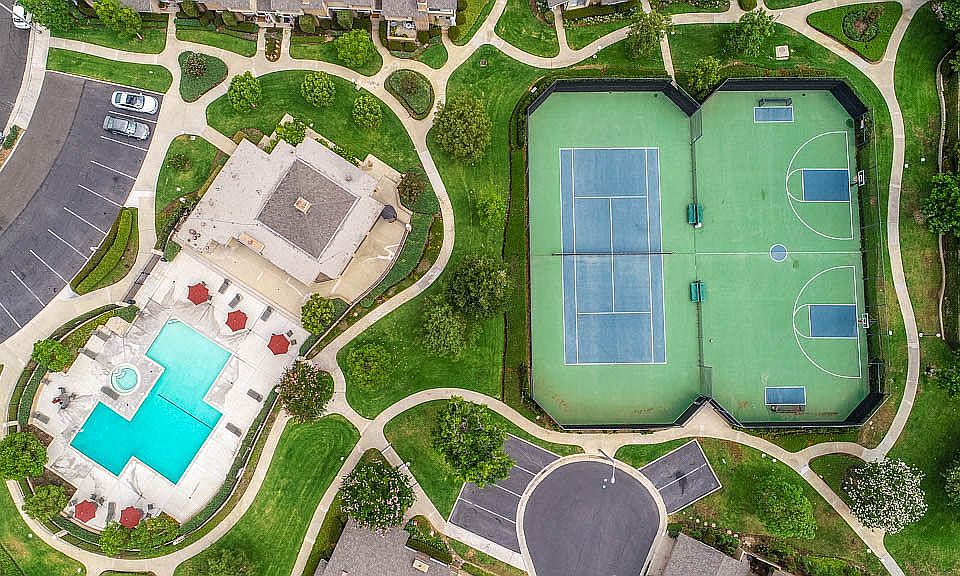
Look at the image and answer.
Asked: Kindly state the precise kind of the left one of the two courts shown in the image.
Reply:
tennis court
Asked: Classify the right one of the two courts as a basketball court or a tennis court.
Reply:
basketball court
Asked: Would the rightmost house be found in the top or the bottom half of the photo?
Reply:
bottom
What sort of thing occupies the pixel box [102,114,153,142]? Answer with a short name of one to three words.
car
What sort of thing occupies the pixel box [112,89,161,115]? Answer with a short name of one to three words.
car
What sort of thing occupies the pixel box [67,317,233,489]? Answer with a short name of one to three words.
swimming pool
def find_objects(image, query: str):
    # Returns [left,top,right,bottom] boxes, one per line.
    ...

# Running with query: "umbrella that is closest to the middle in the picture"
[381,205,398,220]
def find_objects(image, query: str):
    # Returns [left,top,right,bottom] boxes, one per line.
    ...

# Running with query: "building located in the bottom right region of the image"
[662,533,752,576]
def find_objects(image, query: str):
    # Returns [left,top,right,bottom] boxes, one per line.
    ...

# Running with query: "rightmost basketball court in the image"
[690,91,870,423]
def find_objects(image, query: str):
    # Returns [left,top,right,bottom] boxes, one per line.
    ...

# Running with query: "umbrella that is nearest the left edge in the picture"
[75,498,102,523]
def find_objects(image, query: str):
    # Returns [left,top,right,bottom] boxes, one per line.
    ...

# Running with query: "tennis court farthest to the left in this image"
[530,92,701,424]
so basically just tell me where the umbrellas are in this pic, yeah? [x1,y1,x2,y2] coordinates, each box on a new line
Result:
[75,498,102,523]
[188,281,211,305]
[381,205,398,220]
[119,506,145,531]
[224,309,248,332]
[267,332,291,356]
